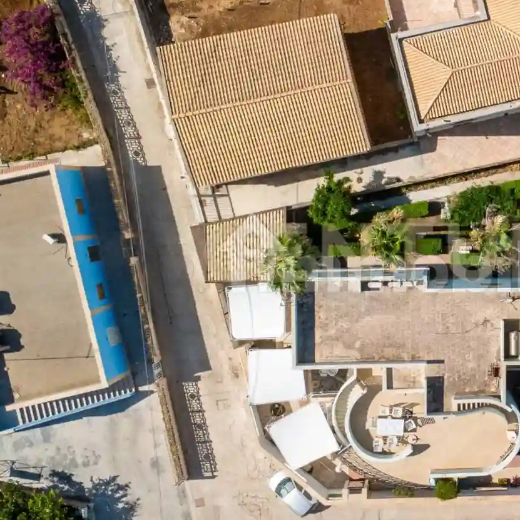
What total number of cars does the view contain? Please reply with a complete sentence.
The picture shows 1 car.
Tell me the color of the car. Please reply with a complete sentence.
In this view, the car is white.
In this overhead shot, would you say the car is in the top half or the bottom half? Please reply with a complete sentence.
It is in the bottom half that the car appears.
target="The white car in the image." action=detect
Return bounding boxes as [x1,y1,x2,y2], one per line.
[268,469,320,518]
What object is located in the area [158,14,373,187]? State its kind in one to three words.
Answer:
building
